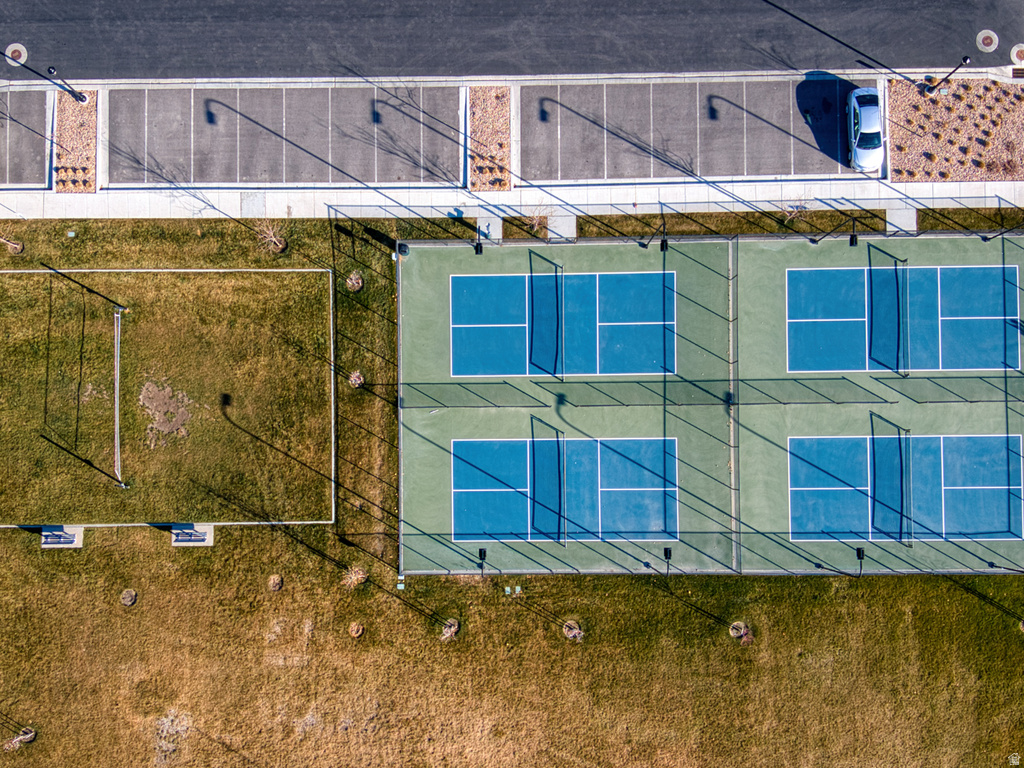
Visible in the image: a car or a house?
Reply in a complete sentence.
There is a car in the scene.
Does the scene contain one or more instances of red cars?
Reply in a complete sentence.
No, the frame has no red car in it.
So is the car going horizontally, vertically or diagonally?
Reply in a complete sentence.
From this overhead view, the car appears to run vertically.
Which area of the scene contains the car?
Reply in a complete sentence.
The car sits in the top right section of the image.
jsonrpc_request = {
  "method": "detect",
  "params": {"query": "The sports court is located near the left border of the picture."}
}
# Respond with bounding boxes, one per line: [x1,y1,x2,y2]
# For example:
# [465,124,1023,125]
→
[0,267,334,527]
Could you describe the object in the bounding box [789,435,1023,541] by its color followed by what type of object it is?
blue sports court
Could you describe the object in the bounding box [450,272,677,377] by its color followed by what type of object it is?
blue sports court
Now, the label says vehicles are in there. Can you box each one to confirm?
[847,88,890,172]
